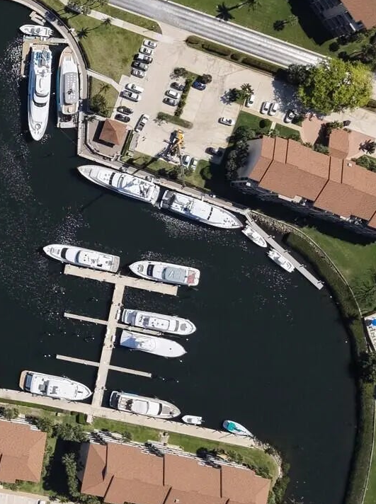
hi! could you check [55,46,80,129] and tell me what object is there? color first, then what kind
white boat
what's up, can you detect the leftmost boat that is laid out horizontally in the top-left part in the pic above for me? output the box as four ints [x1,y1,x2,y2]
[20,25,55,38]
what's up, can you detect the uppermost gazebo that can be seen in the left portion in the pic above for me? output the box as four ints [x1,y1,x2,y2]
[97,118,128,146]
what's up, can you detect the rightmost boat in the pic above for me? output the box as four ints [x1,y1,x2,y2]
[262,248,292,271]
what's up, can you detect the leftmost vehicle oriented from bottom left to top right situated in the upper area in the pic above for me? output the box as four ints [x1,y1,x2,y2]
[134,114,149,132]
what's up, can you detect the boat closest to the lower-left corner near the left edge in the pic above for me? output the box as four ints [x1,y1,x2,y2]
[17,369,94,401]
